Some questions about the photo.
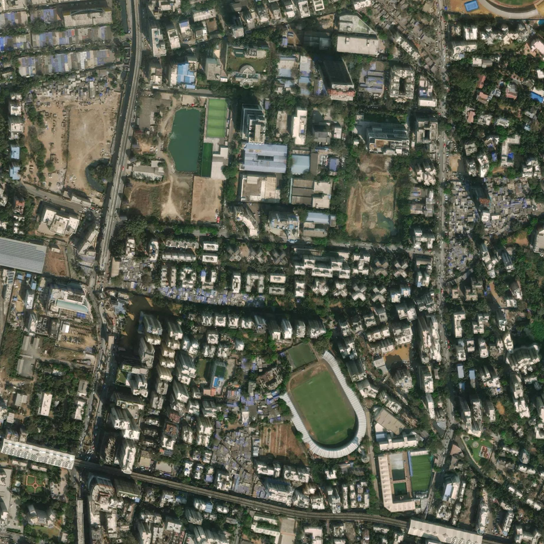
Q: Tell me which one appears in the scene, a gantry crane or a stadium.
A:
stadium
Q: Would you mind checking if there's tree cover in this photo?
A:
Yes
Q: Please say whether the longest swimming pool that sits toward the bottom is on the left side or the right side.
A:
right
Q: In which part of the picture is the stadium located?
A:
bottom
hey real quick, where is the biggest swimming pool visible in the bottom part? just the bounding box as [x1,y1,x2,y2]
[389,452,412,498]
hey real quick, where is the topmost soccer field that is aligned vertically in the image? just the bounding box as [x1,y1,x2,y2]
[206,94,229,138]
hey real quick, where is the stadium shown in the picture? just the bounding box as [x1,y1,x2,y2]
[280,348,367,458]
